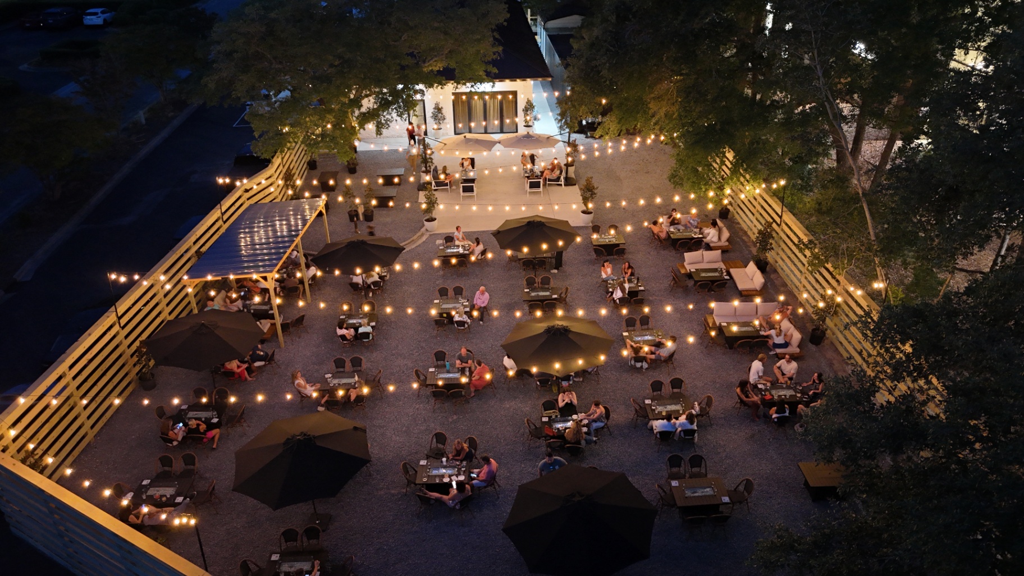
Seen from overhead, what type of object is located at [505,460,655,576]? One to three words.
umbrella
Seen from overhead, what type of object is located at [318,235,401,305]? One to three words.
umbrella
